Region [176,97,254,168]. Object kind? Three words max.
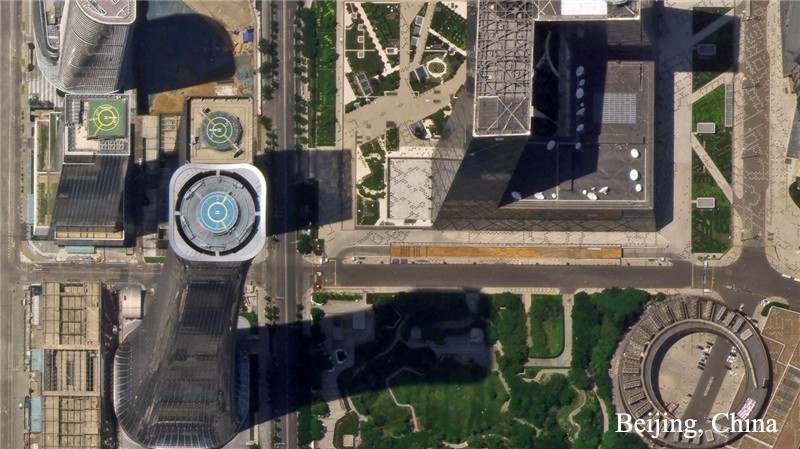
building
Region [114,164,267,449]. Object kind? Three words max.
building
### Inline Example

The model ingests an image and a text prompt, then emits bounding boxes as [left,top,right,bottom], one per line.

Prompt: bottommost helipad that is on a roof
[199,194,237,231]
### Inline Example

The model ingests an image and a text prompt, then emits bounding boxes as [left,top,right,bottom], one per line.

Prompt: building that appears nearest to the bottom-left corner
[41,283,102,449]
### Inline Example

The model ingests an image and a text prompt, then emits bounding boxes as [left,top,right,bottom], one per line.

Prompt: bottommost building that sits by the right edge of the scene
[616,296,771,449]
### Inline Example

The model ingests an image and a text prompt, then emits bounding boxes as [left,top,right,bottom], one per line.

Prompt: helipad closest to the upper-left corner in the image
[87,97,127,138]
